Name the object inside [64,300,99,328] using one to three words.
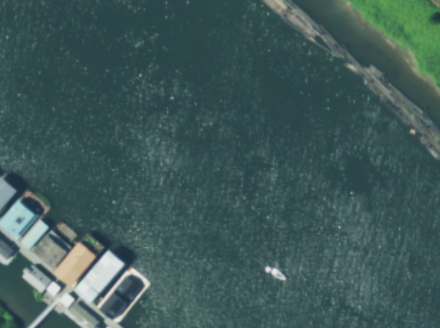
building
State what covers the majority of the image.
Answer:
water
